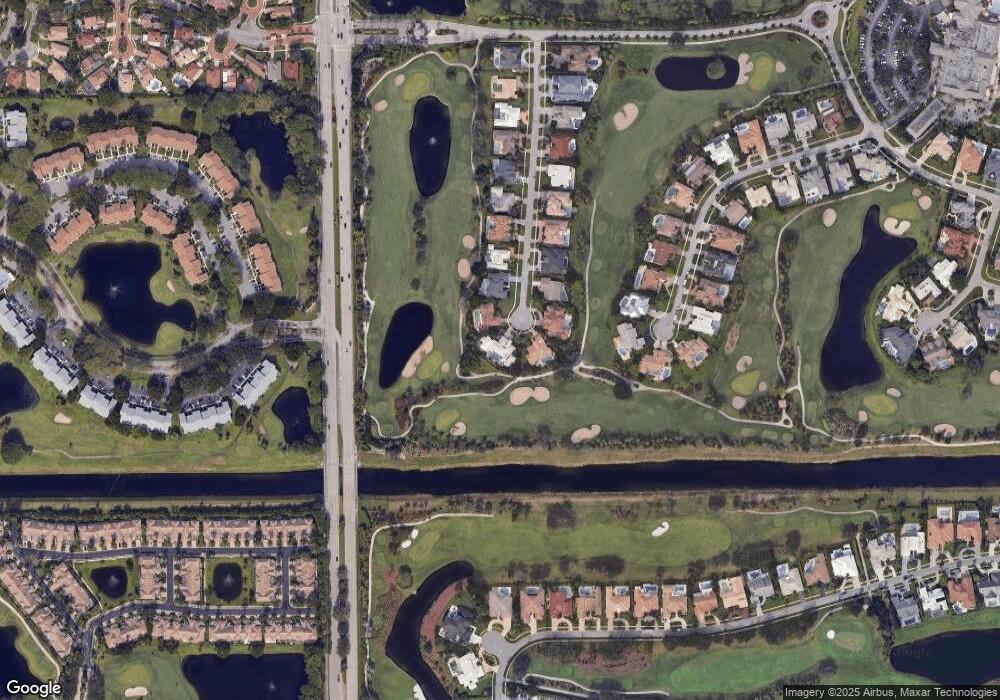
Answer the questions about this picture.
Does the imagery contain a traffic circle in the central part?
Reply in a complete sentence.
No, looking in the central part, there is no traffic circle.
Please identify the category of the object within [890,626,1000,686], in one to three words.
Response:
pond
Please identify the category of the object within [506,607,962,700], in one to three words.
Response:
golf course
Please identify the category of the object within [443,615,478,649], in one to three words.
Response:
house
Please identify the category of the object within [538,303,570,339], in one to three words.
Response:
house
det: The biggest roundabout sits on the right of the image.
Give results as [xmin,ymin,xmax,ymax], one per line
[802,1,838,37]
